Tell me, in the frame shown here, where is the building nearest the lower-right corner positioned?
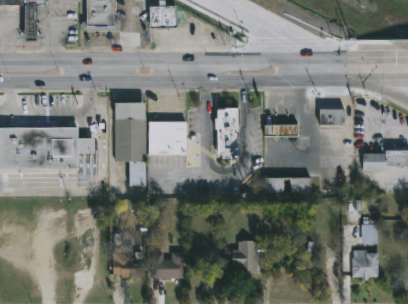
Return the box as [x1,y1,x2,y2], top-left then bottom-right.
[352,250,379,281]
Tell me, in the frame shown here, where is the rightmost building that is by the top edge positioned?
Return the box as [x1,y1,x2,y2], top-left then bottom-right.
[150,1,178,29]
